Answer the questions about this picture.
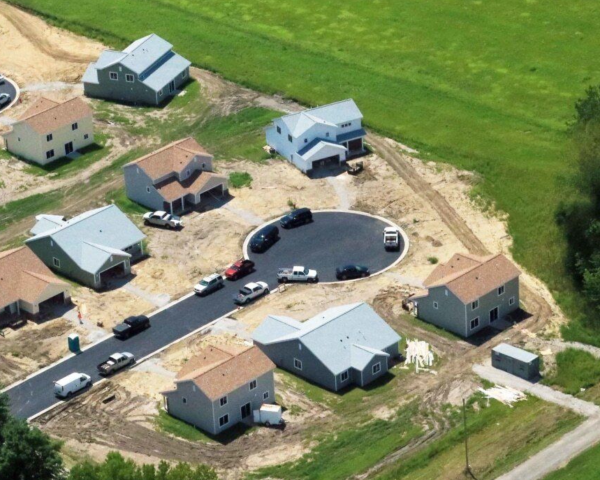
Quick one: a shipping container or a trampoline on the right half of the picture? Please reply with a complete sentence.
Looking on the right half of the picture, you will find a shipping container.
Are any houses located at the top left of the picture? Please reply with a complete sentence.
Yes, there is a house at the top left of the picture.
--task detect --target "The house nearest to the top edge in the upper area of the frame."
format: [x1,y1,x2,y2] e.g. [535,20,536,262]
[82,34,190,104]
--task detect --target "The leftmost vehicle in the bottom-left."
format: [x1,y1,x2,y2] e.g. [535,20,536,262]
[52,372,92,396]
